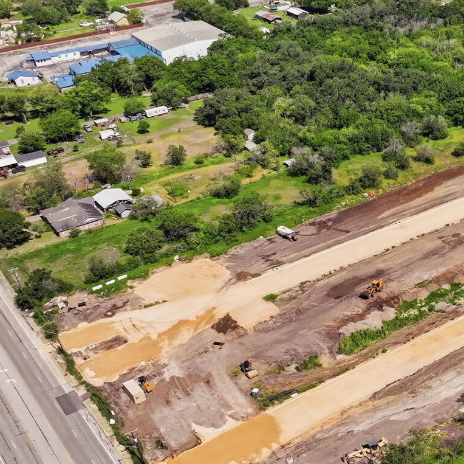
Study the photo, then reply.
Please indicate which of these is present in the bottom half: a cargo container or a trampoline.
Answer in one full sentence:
What appears in the bottom half is a cargo container.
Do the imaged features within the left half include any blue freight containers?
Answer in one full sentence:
No, there's no blue freight container to be seen within the left half.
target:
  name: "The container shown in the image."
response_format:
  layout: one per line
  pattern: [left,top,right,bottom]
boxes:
[122,378,148,408]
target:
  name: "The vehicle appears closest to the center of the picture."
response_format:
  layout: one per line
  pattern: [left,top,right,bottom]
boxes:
[276,222,300,242]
